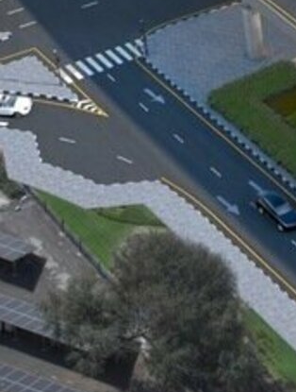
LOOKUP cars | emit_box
[258,193,296,230]
[0,94,38,118]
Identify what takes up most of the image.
paved ground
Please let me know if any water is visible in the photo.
No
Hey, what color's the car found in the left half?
white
